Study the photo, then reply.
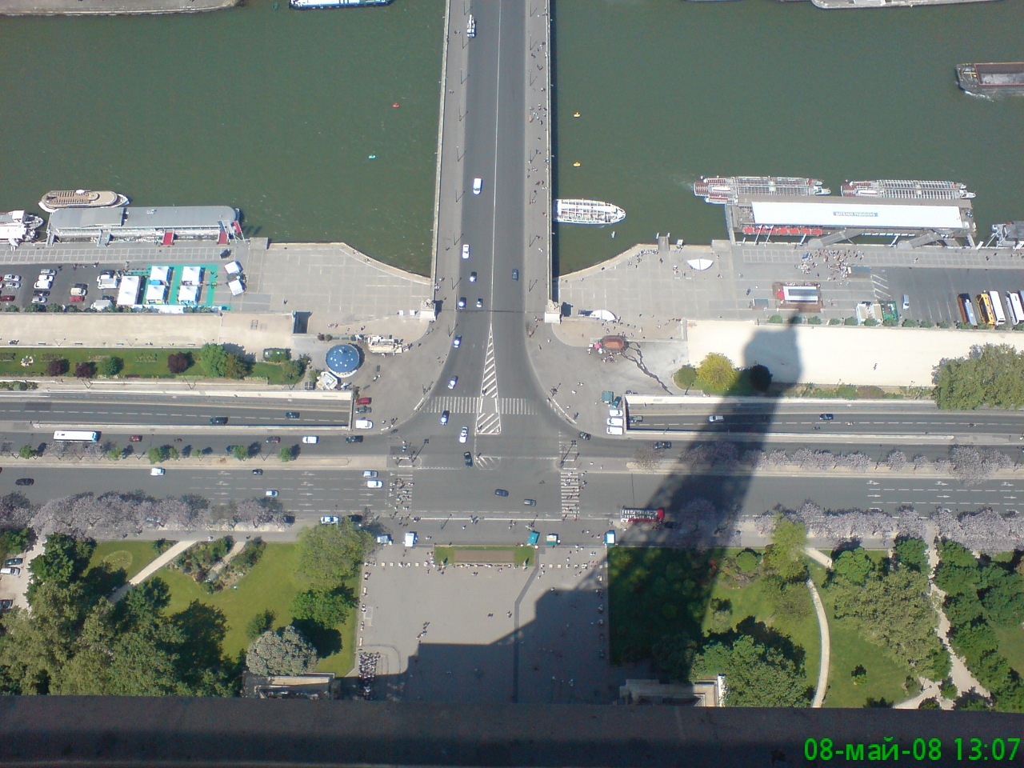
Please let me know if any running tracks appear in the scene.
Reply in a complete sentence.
No, the photo shows no running track.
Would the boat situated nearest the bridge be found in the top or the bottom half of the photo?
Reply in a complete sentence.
You can find the boat situated nearest the bridge in the top half.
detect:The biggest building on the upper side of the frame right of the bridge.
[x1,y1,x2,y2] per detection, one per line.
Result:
[767,280,821,312]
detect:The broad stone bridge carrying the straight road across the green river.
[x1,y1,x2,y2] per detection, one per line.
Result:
[427,0,555,323]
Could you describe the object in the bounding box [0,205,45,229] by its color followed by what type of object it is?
white boat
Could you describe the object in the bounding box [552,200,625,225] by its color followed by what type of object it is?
white boat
